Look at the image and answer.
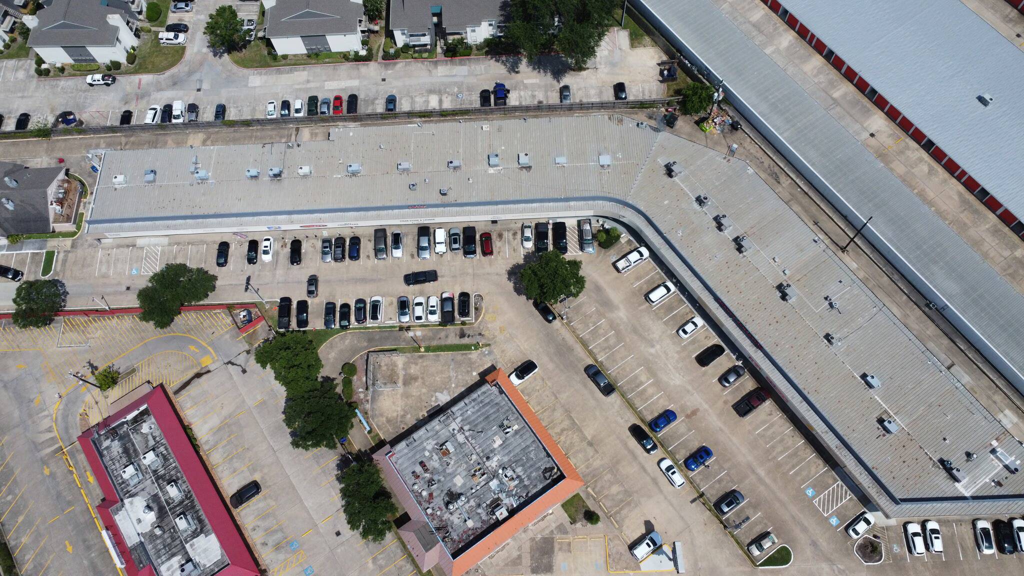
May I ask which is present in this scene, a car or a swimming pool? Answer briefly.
car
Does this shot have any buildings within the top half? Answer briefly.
Yes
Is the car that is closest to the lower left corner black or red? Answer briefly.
black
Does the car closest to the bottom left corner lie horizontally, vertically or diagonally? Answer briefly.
diagonally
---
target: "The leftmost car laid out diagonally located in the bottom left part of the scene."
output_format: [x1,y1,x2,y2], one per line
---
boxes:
[230,479,263,509]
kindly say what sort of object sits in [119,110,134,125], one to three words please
car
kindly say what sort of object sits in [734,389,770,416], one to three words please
truck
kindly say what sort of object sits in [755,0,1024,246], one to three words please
building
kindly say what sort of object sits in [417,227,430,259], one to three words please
vehicle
